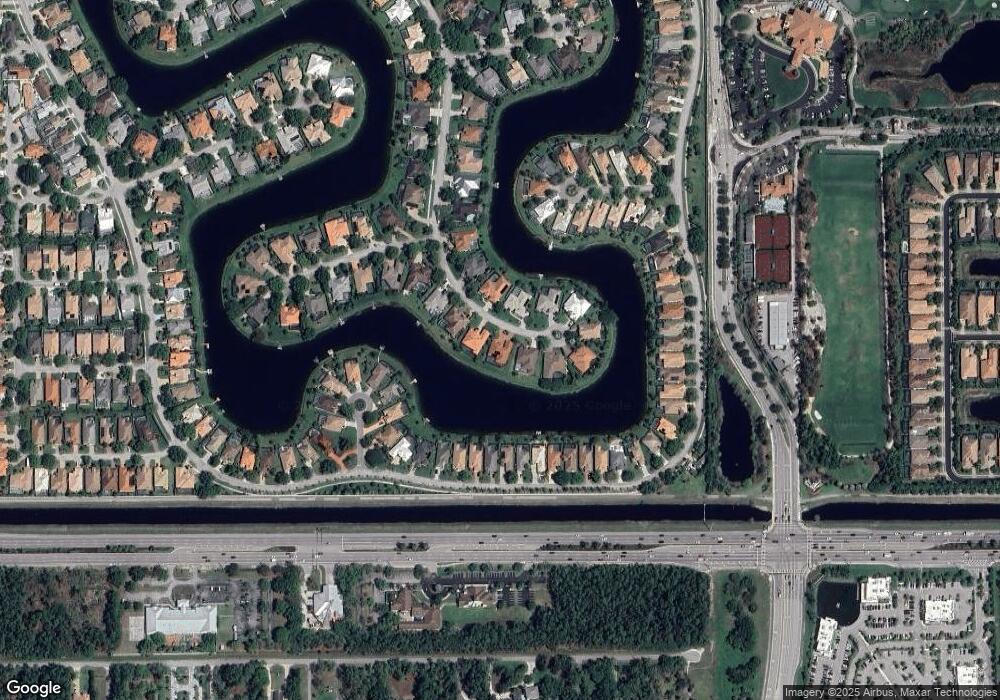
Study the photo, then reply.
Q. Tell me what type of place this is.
residential area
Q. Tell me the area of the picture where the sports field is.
right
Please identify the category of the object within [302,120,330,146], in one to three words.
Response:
house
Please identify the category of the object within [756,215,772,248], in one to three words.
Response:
tennis court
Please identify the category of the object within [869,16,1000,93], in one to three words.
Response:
pond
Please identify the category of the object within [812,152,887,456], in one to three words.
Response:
sports field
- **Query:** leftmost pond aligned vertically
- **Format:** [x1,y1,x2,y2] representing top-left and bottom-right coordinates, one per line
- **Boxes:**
[719,376,754,481]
